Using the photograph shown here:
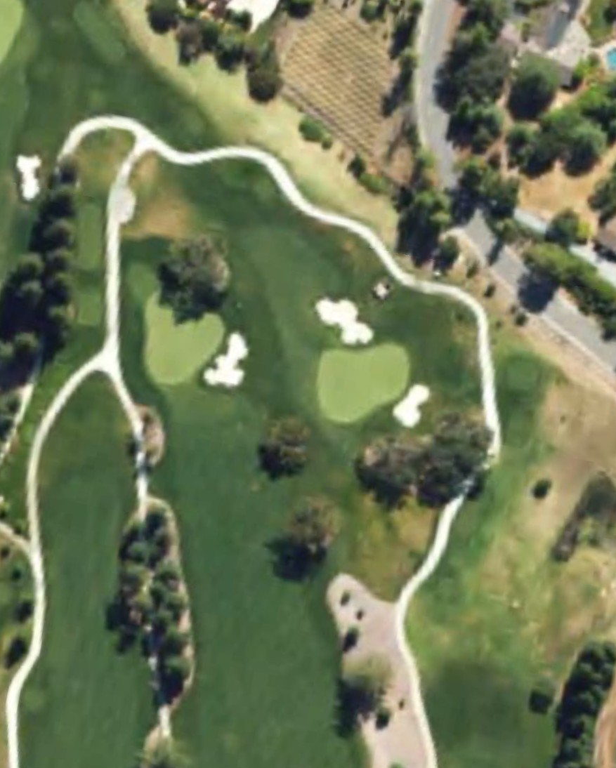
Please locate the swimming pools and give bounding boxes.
[602,41,616,75]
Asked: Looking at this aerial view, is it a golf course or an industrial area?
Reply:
golf course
